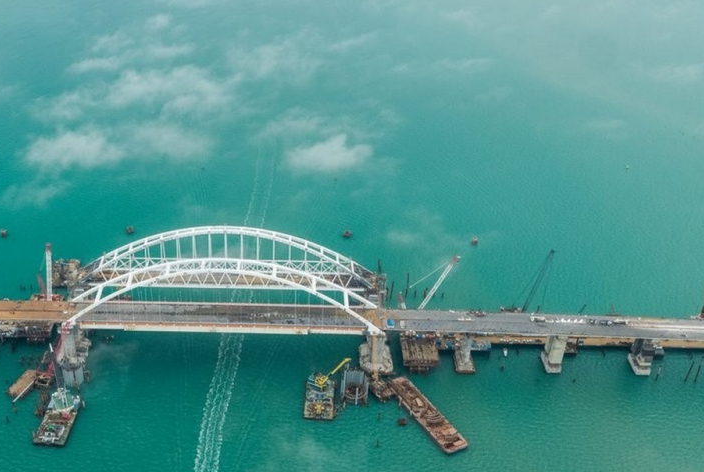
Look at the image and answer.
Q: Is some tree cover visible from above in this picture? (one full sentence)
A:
No, there's no tree cover in this view.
